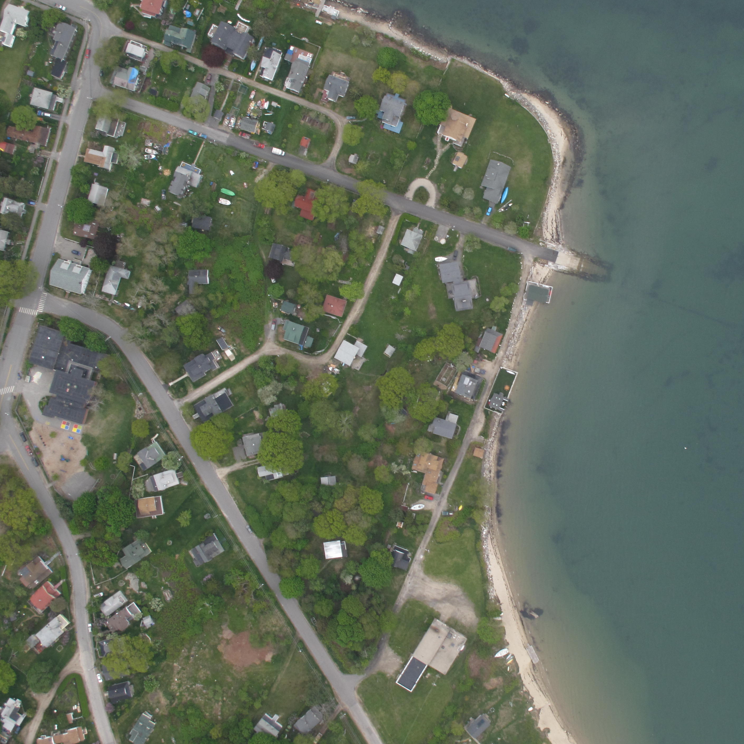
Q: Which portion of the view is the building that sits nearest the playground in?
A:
left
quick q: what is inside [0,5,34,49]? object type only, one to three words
house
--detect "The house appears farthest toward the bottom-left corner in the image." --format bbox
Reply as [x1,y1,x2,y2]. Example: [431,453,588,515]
[0,695,26,742]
